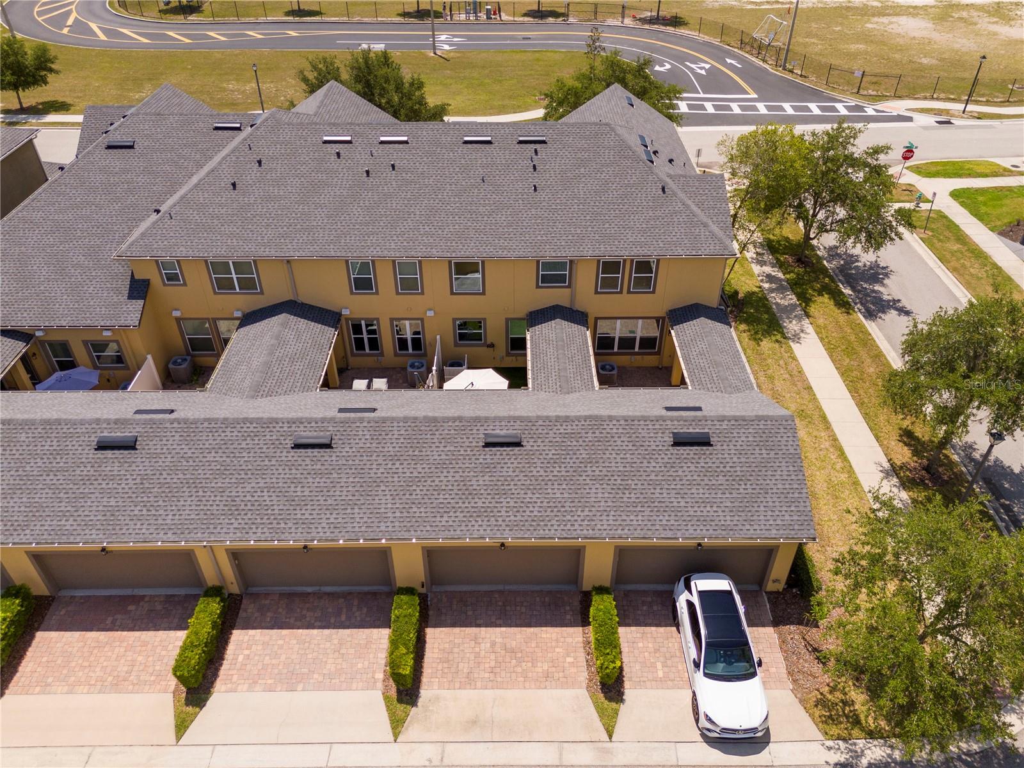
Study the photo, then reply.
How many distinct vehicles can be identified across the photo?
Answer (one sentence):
There is 1 vehicle in the image.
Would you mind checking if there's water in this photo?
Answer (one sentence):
No, water can't be seen anywhere here.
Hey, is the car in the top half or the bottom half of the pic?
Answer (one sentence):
The bottom half of the photo is where the car is.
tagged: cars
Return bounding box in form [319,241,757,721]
[673,579,770,741]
